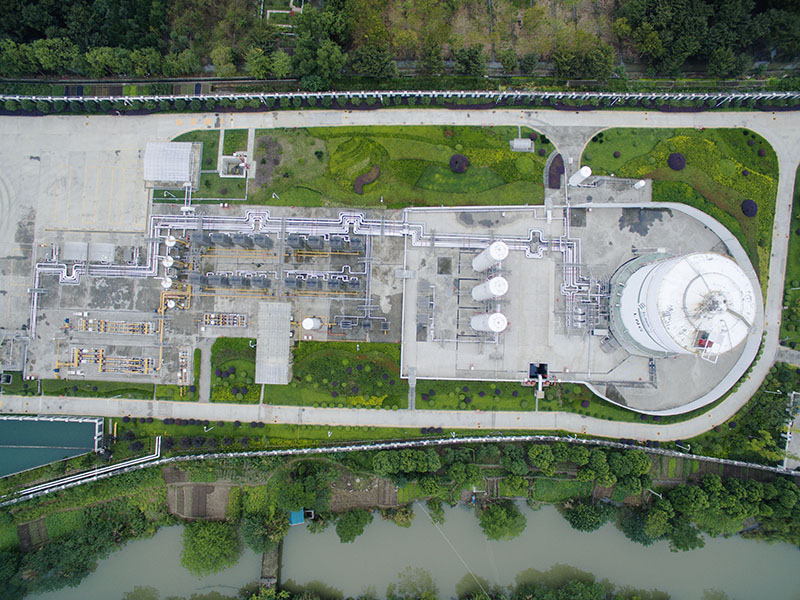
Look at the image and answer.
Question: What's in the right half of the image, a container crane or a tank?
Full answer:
Looking in the right half of the image, you will find a tank.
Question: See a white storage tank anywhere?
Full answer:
Yes, the photo shows a white storage tank.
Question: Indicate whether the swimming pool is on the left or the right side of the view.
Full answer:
The swimming pool appears in the left half of the scene.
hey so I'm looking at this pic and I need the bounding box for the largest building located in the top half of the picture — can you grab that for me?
[510,138,534,153]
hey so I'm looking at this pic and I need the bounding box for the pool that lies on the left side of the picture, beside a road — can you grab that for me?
[0,420,98,480]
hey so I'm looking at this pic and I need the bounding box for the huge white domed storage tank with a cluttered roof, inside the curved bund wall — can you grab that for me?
[608,252,760,363]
